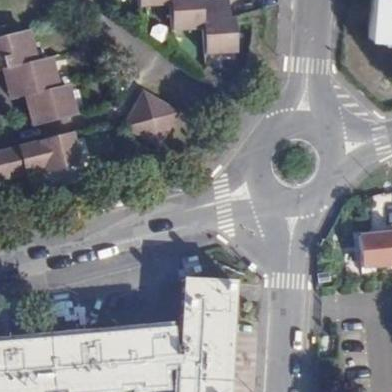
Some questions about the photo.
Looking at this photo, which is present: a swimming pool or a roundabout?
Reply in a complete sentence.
The image shows a roundabout.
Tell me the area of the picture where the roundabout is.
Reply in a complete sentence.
Look in the right portion of the view to spot the roundabout.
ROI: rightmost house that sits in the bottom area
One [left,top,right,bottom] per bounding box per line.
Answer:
[352,228,392,274]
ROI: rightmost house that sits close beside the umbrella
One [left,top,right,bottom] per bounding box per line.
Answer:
[174,0,208,29]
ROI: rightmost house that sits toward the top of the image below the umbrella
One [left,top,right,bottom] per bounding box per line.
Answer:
[127,88,178,148]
